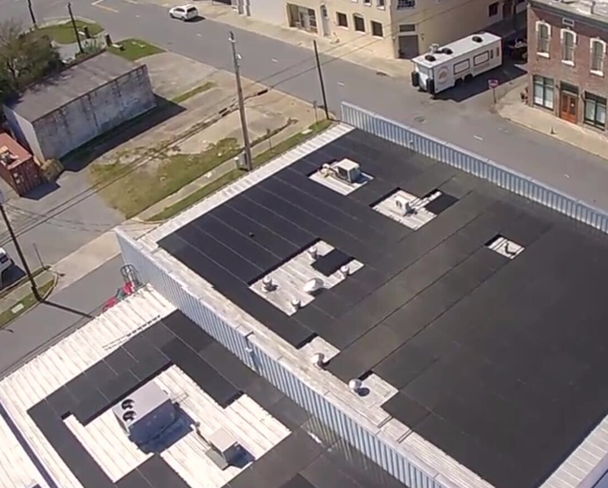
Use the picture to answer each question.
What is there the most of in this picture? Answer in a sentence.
What you mostly see from above here is buildings.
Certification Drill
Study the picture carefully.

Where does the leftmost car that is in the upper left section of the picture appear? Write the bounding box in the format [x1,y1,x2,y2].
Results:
[60,46,84,62]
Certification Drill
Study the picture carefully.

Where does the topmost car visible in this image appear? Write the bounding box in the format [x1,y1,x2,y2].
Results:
[170,8,198,21]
